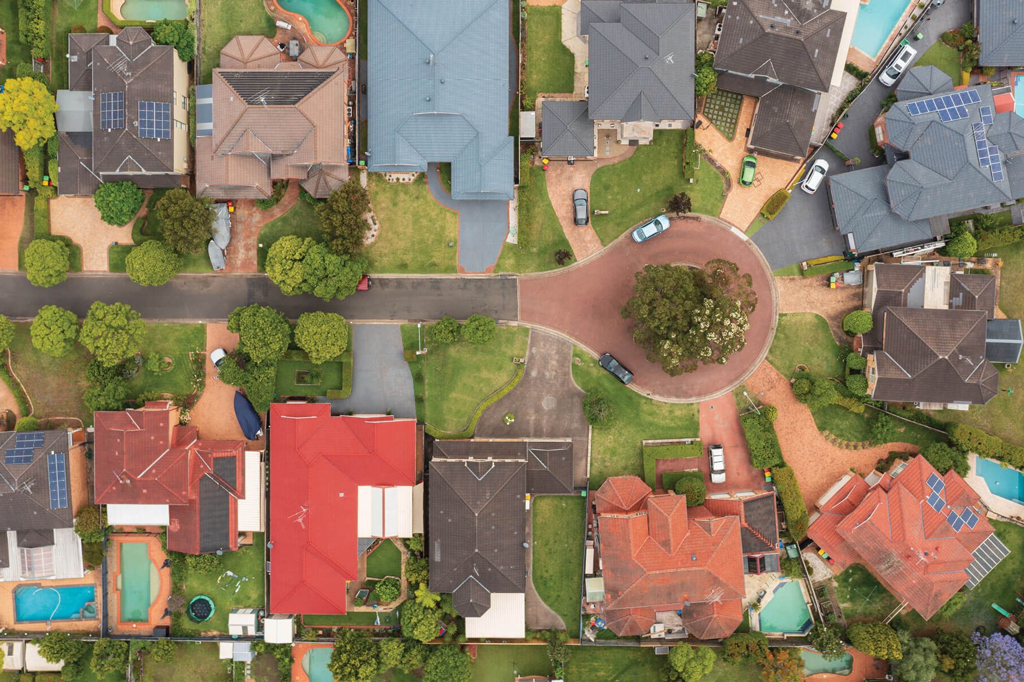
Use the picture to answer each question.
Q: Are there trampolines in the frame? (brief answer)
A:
Yes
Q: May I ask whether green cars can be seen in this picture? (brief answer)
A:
Yes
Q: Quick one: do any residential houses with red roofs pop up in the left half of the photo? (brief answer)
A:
Yes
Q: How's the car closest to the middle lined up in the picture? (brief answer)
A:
at an angle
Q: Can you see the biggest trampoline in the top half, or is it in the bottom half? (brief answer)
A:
bottom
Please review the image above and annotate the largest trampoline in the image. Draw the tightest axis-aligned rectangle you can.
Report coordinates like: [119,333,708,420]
[188,596,216,622]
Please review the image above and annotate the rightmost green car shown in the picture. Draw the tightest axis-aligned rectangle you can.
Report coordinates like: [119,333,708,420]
[738,155,757,188]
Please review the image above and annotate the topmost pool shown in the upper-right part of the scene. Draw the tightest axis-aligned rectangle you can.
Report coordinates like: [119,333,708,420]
[849,0,910,63]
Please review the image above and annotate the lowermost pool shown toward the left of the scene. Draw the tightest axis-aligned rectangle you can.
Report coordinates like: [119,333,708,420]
[299,646,335,682]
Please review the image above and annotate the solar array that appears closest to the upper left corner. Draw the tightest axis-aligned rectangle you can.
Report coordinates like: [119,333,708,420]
[100,91,124,129]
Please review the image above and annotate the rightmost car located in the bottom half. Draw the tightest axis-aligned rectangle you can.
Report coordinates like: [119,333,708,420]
[708,443,727,483]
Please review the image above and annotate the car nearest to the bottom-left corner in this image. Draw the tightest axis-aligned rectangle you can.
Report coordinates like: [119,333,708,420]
[213,351,230,371]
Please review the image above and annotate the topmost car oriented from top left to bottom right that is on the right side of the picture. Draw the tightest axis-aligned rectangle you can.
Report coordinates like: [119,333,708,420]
[599,353,635,384]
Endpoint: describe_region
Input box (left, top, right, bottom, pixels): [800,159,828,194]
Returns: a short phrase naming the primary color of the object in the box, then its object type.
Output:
white car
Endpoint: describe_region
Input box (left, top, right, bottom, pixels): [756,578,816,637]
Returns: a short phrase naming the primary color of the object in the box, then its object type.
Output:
green swimming pool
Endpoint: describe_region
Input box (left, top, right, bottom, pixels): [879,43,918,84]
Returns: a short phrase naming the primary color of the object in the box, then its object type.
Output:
white vehicle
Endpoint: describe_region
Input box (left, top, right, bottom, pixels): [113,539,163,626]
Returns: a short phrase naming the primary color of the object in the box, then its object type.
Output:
green swimming pool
